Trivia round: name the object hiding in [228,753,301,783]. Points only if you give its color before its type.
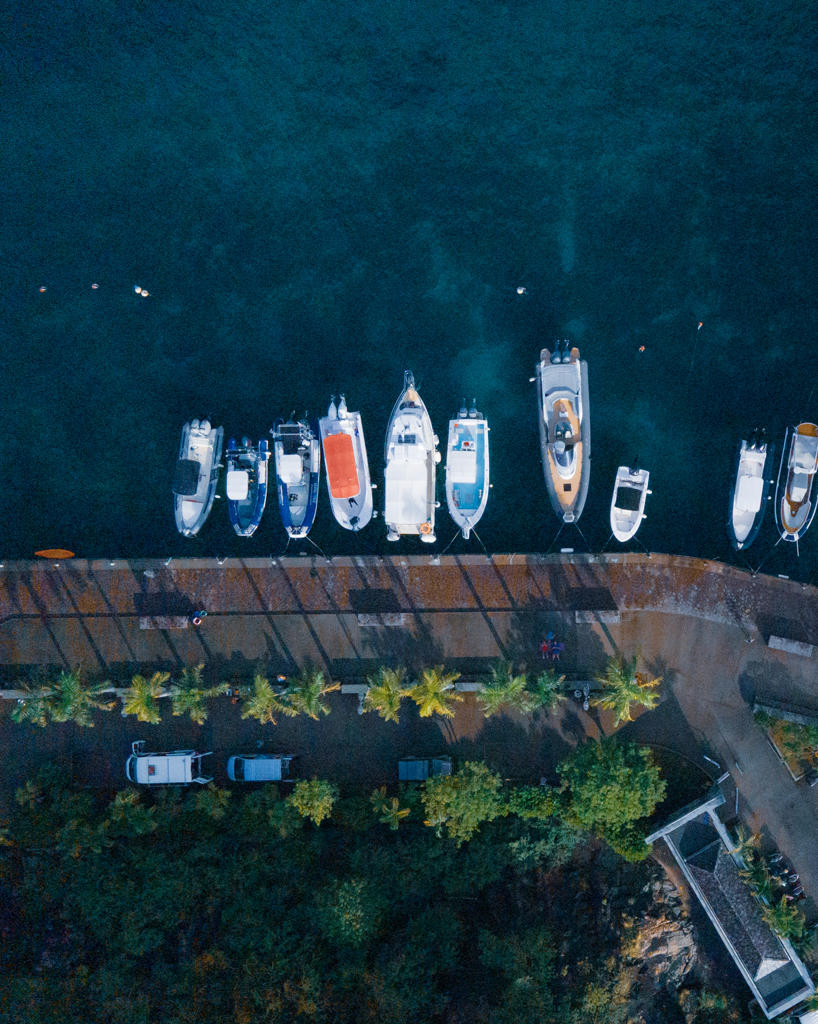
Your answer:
blue van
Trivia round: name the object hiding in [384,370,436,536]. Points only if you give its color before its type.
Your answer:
white boat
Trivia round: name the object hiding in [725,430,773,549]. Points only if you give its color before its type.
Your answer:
white boat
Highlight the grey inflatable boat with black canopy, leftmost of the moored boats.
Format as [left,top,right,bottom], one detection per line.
[172,419,223,537]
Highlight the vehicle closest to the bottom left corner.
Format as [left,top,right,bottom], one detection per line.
[127,736,217,787]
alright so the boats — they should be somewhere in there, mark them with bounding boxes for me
[611,456,649,543]
[537,340,592,523]
[226,436,269,537]
[725,430,773,549]
[446,398,489,539]
[774,422,818,541]
[320,395,373,532]
[271,411,322,540]
[384,370,436,536]
[172,419,223,537]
